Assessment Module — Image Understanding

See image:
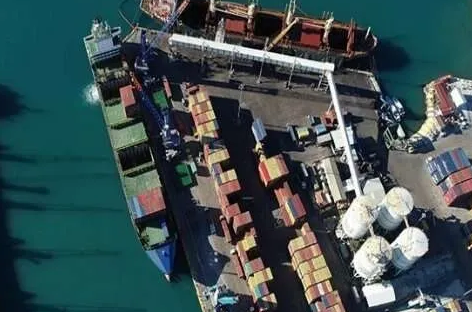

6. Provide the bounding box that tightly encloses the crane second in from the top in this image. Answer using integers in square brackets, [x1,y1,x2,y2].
[128,69,187,160]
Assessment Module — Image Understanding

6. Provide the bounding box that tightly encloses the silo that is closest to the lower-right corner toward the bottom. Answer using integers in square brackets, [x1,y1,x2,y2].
[389,227,431,270]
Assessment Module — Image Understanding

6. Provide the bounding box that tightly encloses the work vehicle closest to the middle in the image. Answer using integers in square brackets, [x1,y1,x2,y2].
[251,138,268,157]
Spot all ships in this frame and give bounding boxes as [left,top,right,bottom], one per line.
[126,0,379,77]
[87,23,199,293]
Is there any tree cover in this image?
No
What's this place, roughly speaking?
port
